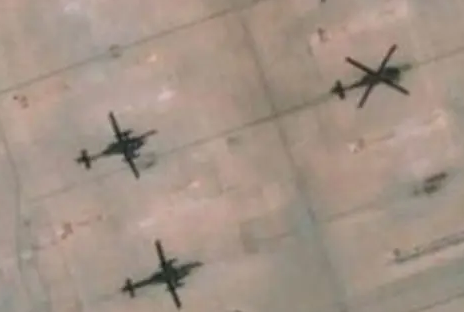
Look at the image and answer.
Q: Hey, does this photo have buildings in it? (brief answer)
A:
No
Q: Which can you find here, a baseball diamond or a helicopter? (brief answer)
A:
helicopter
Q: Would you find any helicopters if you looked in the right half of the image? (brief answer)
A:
Yes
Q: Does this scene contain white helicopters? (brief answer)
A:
No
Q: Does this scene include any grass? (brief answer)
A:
No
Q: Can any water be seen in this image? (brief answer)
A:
No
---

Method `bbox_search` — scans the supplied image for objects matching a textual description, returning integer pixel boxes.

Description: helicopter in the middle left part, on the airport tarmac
[80,111,157,177]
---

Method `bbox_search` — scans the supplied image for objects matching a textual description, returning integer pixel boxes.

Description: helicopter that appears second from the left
[125,242,202,310]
